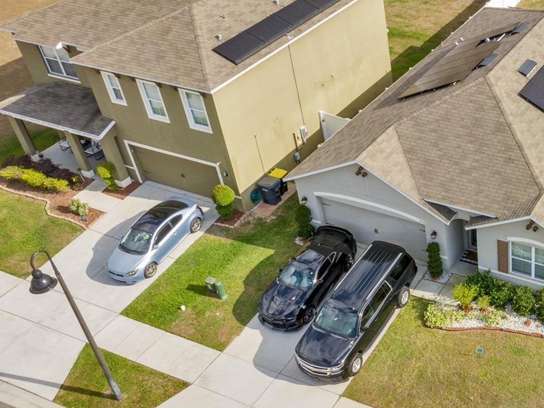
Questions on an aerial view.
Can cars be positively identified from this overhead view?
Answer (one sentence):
Yes, a car is visible in the scene.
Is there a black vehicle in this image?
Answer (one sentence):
Yes, a black vehicle appears in the view.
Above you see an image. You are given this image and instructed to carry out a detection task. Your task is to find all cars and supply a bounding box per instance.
[290,243,418,387]
[101,193,203,280]
[254,221,358,329]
